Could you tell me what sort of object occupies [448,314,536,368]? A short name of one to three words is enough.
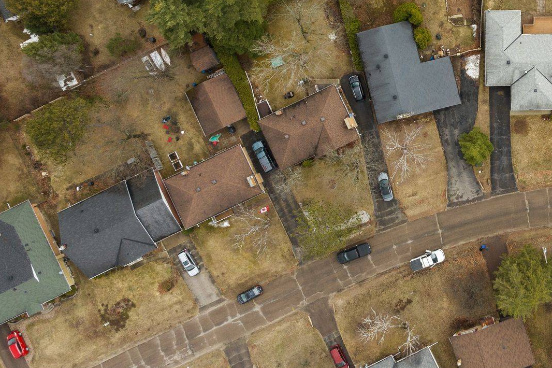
house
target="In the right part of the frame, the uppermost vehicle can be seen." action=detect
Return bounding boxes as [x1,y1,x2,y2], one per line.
[347,74,367,103]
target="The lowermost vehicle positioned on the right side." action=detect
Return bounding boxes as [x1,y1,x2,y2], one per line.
[330,342,350,368]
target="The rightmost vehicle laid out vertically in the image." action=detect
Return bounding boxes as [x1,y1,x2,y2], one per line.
[378,171,396,201]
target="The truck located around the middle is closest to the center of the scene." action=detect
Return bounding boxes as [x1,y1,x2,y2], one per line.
[252,139,275,175]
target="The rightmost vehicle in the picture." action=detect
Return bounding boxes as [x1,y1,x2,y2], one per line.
[410,246,446,272]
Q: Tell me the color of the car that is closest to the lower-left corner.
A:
red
